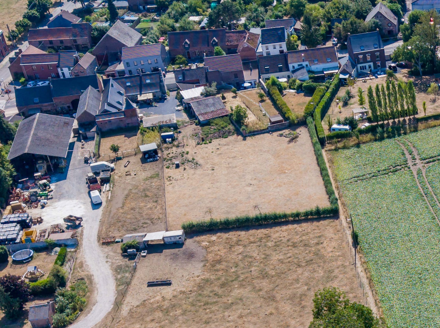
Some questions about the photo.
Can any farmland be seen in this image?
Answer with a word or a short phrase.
Yes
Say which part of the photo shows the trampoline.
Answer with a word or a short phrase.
bottom left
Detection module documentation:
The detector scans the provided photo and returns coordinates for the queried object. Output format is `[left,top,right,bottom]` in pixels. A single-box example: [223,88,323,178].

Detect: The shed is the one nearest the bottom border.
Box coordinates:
[28,299,53,328]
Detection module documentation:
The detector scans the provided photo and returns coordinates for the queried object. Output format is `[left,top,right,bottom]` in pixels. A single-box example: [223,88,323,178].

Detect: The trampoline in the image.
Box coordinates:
[10,242,33,265]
